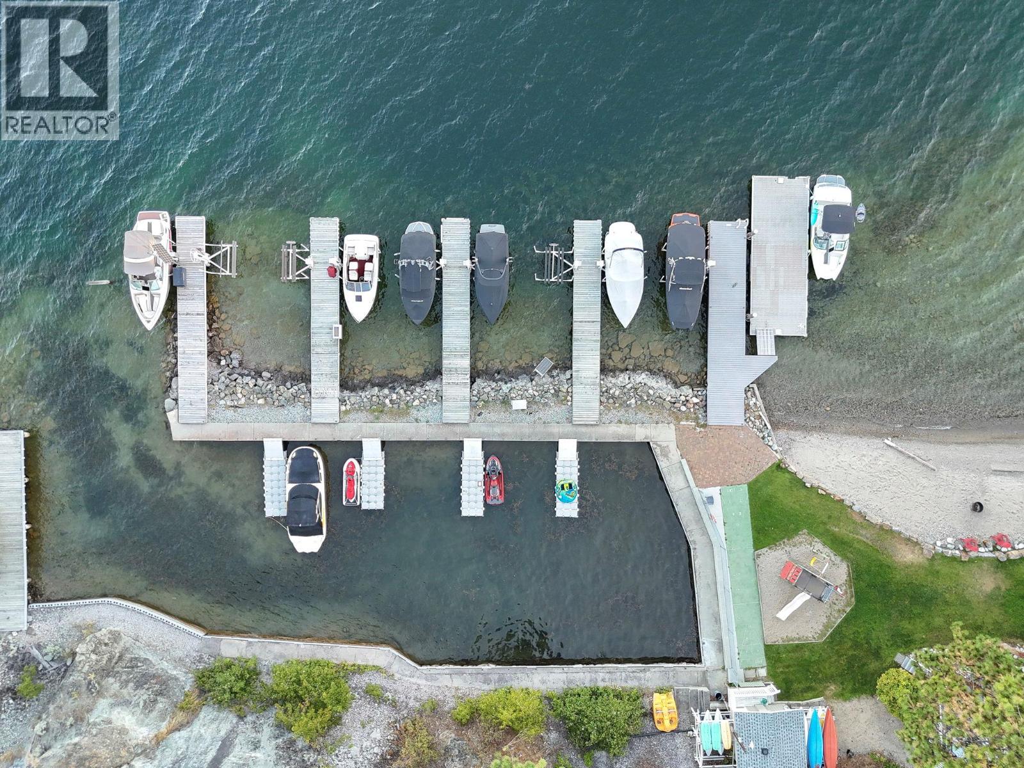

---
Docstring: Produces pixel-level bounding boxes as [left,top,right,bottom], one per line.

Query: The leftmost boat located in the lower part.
[286,446,329,551]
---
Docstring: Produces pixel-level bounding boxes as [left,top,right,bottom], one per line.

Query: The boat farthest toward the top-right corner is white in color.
[800,178,869,280]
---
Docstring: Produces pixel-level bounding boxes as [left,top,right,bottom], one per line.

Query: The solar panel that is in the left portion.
[147,240,194,275]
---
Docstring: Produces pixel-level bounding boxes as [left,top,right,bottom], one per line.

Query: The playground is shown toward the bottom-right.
[776,549,845,622]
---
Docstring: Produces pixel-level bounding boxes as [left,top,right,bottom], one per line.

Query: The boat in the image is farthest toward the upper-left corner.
[122,213,175,331]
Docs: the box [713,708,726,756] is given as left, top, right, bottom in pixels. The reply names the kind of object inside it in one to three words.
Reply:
boat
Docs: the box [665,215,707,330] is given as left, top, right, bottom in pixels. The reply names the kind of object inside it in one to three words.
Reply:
boat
